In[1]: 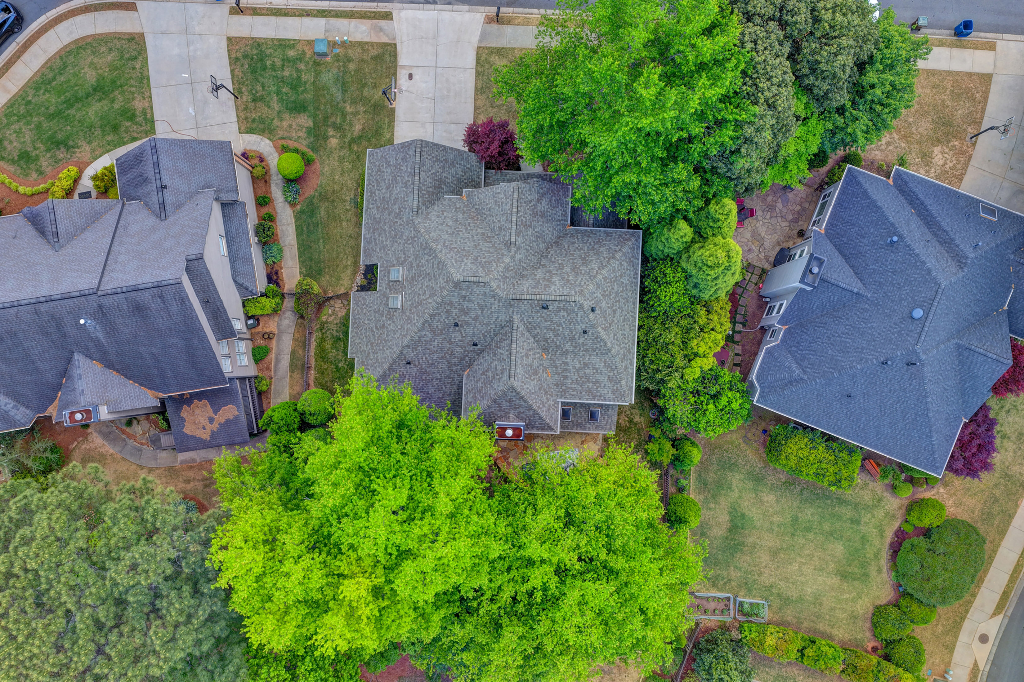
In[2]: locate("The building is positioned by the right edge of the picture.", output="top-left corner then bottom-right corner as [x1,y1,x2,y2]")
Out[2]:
[742,163,1024,479]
